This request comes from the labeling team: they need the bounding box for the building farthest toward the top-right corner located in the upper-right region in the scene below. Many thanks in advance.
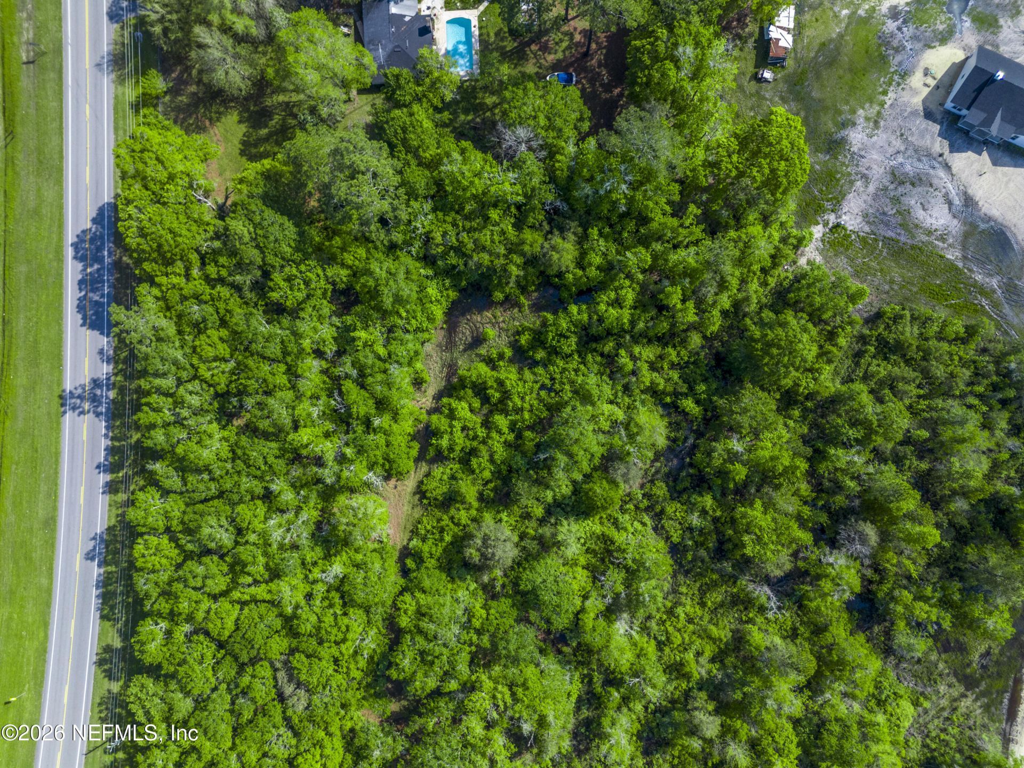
[945,43,1024,144]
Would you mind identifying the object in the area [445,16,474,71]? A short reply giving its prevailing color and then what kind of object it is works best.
blue swimming pool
